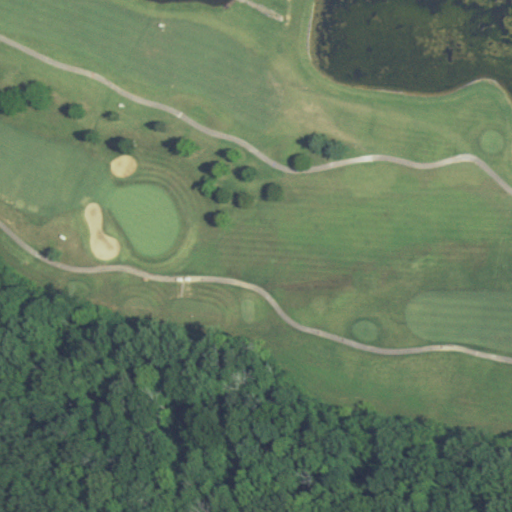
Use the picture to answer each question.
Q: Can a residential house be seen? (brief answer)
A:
No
